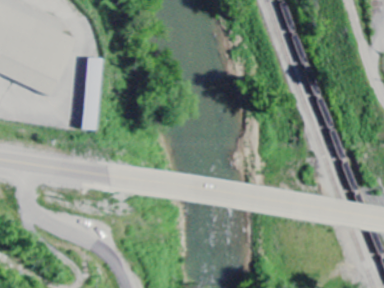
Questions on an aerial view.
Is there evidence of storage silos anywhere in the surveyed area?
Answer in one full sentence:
No, I can see no storage silo in this picture.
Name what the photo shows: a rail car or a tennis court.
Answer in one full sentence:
Looking from above, you can make out a rail car.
